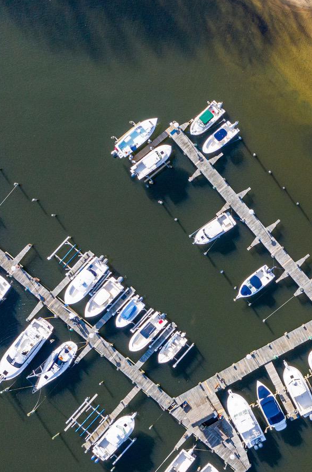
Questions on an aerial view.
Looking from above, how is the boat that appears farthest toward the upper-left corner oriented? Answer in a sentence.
The boat that appears farthest toward the upper-left corner is oriented at an angle.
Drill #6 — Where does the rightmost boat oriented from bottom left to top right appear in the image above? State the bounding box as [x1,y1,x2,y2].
[237,265,276,298]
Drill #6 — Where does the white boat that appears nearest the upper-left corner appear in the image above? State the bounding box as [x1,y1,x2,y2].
[115,117,158,158]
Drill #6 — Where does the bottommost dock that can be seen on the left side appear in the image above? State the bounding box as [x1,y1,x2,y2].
[84,386,140,449]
